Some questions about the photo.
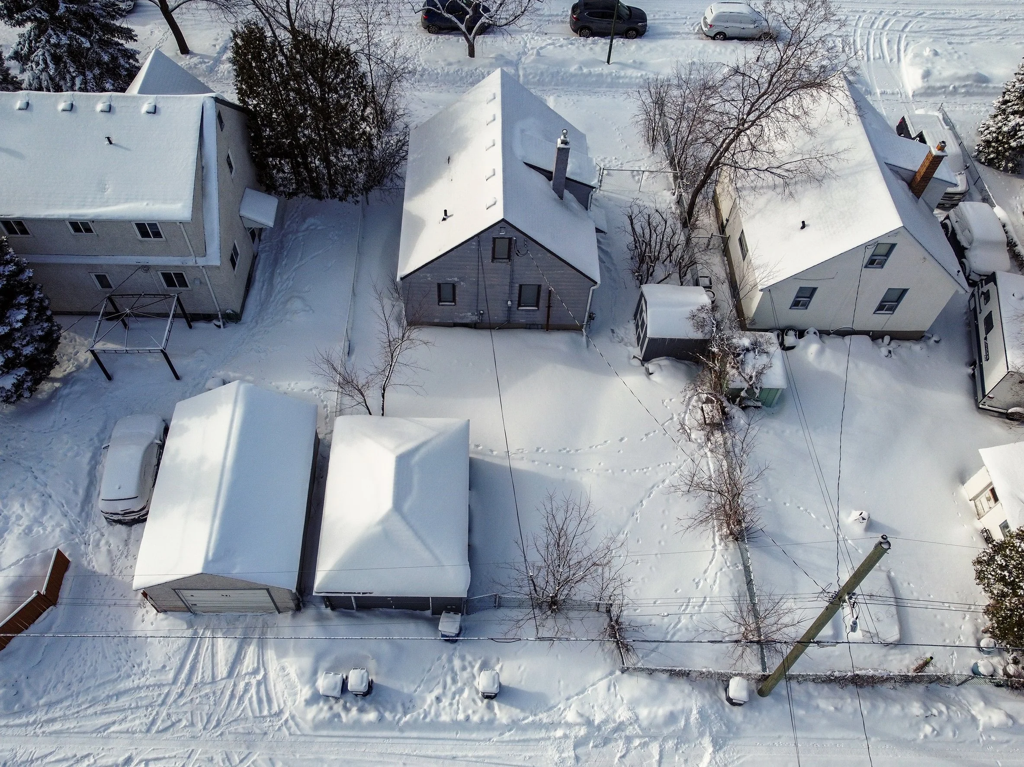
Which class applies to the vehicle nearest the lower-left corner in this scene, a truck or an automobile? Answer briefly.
automobile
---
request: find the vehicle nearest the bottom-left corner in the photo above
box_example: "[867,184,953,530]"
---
[90,415,171,526]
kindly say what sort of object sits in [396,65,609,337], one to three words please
house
